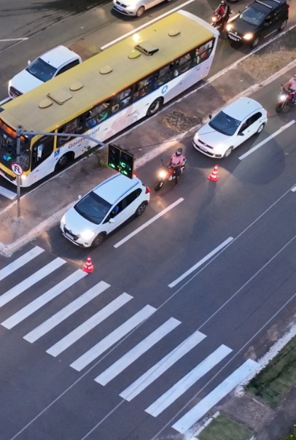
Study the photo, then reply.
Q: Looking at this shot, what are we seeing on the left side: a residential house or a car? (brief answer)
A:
car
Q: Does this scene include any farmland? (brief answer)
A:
No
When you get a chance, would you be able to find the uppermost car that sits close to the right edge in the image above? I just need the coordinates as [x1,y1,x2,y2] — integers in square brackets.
[227,0,290,46]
